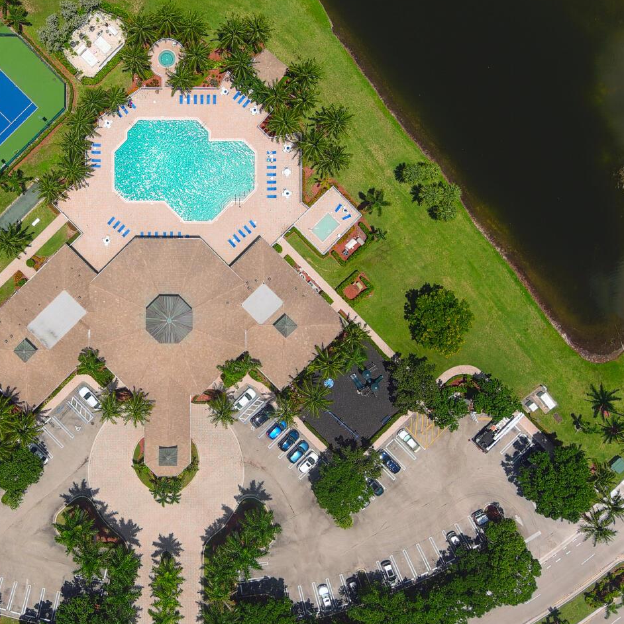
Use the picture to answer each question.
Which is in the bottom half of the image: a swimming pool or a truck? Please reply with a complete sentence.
Visible in the bottom half of the image is a truck.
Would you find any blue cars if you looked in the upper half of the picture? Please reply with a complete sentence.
No, in the upper half of the picture there is no blue car.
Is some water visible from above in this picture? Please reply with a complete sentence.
Yes, the picture does contain water.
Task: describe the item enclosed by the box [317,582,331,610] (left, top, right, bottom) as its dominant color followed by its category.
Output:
white vehicle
